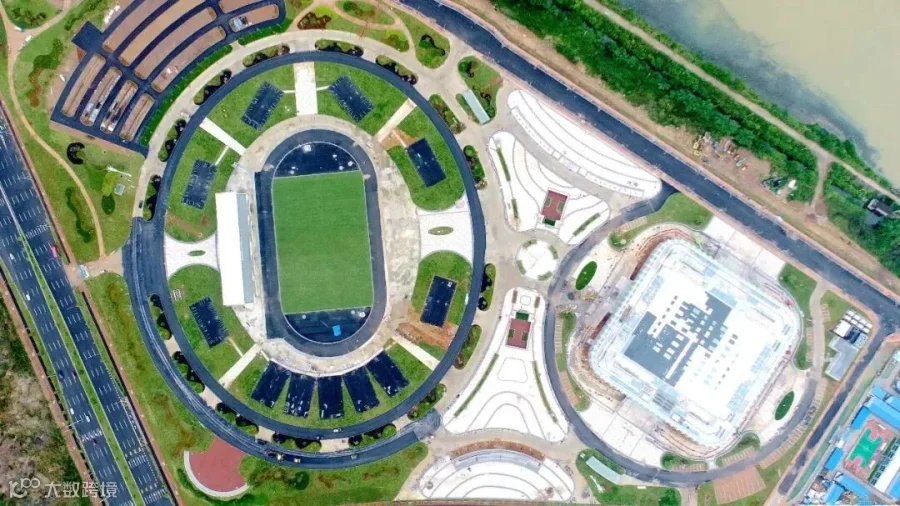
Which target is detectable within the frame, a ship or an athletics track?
athletics track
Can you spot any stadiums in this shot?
Yes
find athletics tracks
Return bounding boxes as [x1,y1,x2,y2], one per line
[250,128,388,357]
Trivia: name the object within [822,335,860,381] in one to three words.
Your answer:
building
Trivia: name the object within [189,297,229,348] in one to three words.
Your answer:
sports court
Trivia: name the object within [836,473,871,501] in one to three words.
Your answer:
building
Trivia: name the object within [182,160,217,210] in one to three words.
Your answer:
sports court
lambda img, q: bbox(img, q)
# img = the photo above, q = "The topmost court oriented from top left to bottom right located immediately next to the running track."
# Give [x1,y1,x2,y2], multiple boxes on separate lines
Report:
[330,76,374,120]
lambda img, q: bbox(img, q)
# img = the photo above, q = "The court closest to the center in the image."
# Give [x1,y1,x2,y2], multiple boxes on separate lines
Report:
[420,275,457,328]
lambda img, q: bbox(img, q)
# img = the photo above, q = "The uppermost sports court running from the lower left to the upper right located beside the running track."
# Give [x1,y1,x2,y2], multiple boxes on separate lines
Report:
[241,81,284,129]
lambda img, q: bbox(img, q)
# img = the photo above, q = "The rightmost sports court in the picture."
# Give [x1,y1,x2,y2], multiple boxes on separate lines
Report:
[845,418,896,481]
